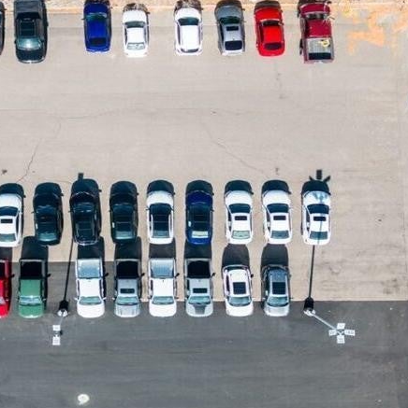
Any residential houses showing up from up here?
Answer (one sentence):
No, the scene contains no residential house.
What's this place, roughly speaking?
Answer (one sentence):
The area seen from above is a parking lot.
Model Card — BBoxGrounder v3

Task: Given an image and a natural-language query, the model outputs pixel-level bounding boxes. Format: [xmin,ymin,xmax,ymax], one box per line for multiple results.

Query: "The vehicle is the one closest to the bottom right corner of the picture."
[261,265,294,318]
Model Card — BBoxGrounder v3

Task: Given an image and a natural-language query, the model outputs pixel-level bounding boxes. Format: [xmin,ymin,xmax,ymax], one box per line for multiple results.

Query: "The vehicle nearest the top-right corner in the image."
[299,1,336,63]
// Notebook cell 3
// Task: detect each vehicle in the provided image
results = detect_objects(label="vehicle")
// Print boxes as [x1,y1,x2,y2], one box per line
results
[82,2,113,53]
[261,265,294,318]
[121,9,151,55]
[74,256,108,319]
[223,265,255,318]
[109,191,140,245]
[70,190,102,244]
[254,4,287,57]
[300,188,334,244]
[299,1,336,63]
[112,256,144,319]
[14,256,48,319]
[215,2,247,55]
[0,256,11,319]
[147,256,180,319]
[0,191,24,245]
[32,191,63,245]
[174,6,205,55]
[184,190,215,244]
[262,191,295,245]
[184,256,216,319]
[13,0,48,61]
[145,190,177,244]
[224,191,256,245]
